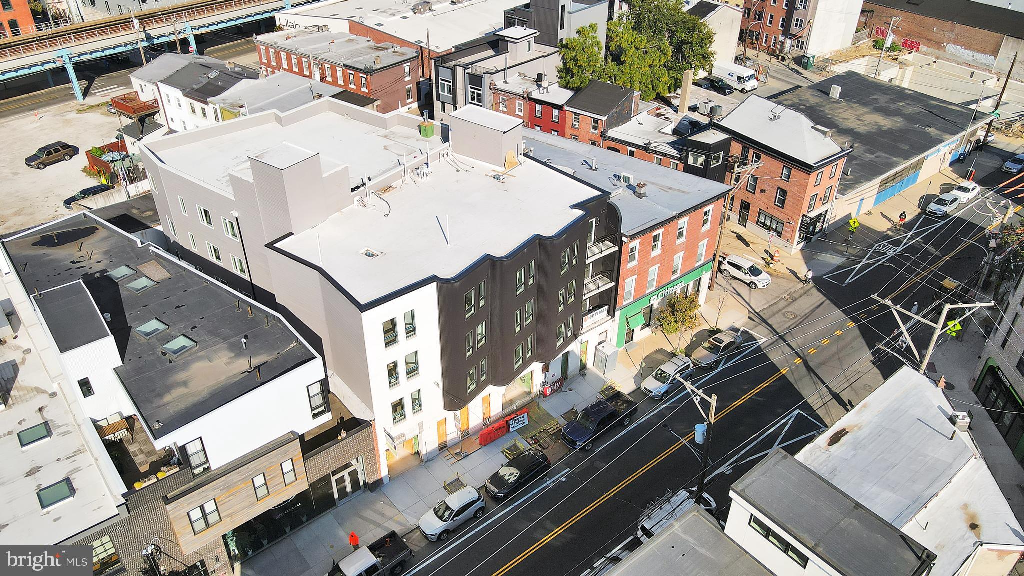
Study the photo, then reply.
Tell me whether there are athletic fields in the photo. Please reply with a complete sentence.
No, the frame has no athletic field in it.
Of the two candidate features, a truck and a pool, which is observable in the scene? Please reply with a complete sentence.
This aerial view contains a truck.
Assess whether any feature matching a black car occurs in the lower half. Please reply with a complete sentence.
Yes, the scene does show a black car in the lower half.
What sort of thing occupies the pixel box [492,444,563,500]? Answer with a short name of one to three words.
car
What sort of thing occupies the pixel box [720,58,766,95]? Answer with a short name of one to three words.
truck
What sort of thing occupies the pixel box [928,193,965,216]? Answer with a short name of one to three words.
car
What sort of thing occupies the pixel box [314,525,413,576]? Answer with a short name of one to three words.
vehicle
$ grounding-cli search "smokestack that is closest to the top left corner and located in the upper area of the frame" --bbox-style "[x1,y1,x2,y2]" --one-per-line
[223,54,237,69]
